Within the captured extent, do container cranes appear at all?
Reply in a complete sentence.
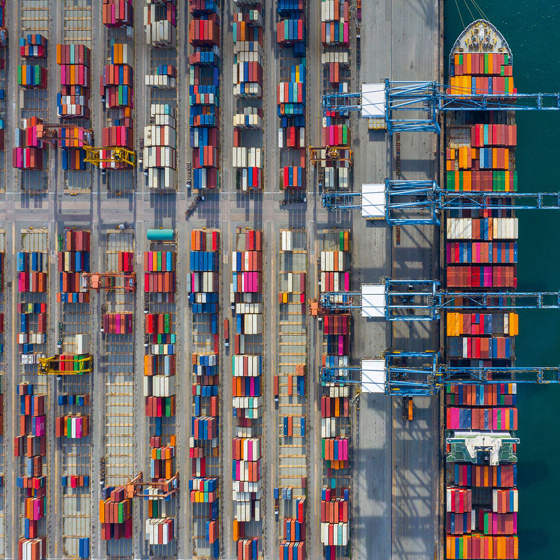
Yes, you can see a container crane in this photo.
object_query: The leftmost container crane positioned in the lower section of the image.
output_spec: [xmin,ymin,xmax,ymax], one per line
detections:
[36,352,94,375]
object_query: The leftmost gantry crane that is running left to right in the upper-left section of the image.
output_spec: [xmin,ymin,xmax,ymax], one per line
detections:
[36,123,94,149]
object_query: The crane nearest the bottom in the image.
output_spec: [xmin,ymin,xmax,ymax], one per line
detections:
[126,470,181,499]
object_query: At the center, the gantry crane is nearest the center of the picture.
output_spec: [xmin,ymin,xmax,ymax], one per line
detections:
[307,296,354,319]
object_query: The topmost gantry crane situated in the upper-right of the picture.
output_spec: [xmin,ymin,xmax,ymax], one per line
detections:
[321,78,560,139]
